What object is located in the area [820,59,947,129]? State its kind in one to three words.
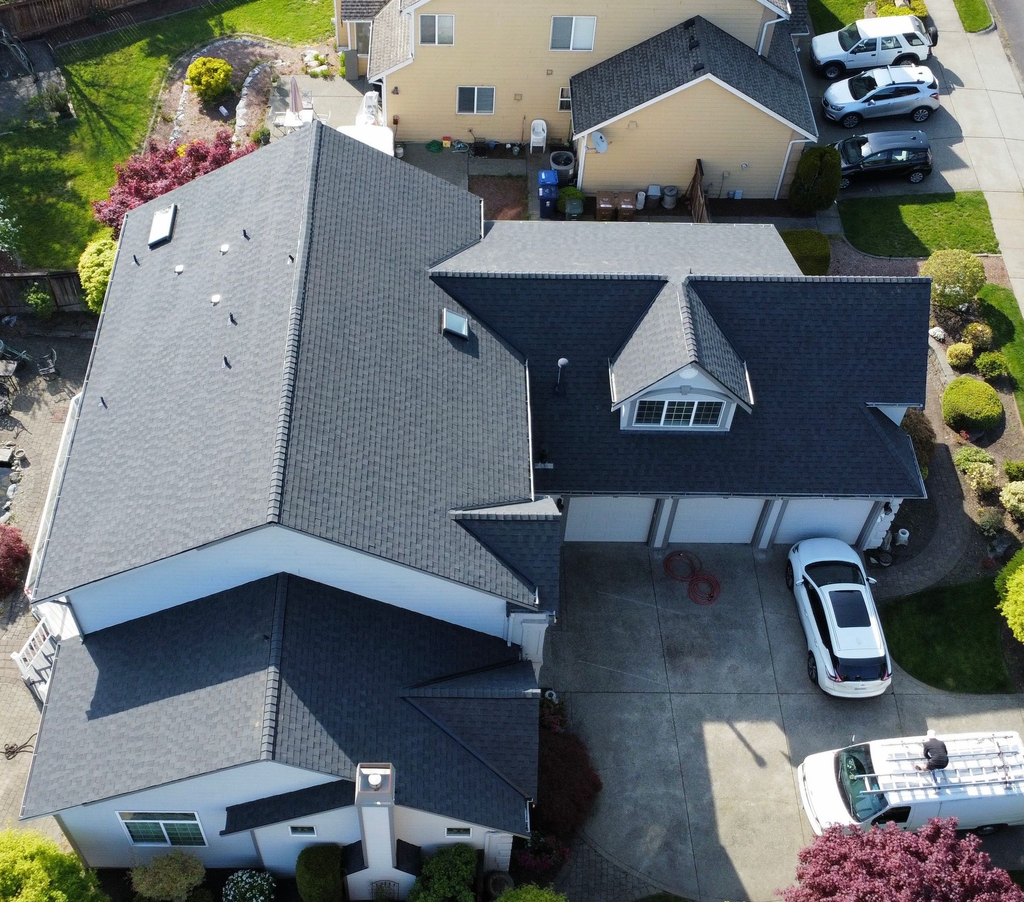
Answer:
car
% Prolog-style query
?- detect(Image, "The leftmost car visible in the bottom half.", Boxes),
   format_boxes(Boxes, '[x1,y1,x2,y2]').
[790,545,897,710]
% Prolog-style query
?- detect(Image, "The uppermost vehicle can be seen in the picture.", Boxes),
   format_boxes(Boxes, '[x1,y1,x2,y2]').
[800,6,937,79]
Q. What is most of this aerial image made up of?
buildings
